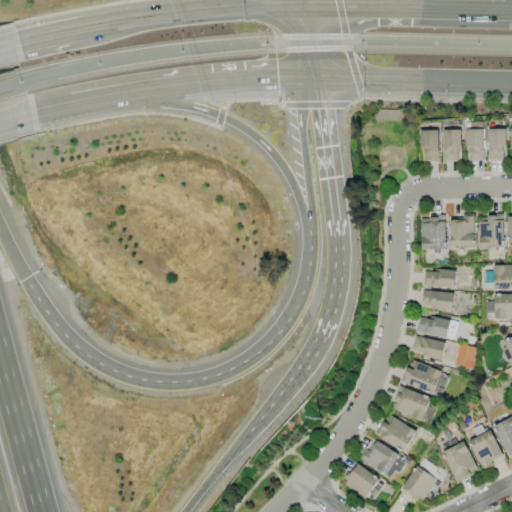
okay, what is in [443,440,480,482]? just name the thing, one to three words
house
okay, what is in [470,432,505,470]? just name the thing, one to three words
house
